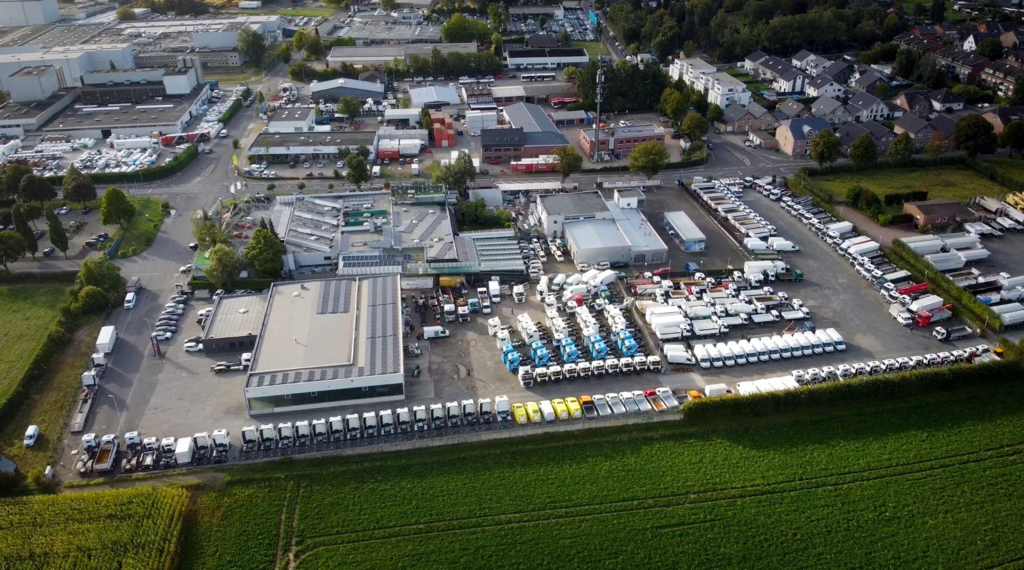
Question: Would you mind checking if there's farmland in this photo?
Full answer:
Yes, the picture does contain farmland.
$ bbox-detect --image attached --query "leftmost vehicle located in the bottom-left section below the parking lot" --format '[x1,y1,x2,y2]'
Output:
[19,422,46,446]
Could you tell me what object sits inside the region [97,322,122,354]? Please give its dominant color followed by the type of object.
white truck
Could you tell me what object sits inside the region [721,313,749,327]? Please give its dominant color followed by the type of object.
white vehicle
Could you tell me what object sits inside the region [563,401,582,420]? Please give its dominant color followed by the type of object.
yellow vehicle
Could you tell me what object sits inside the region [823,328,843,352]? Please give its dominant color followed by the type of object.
white vehicle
